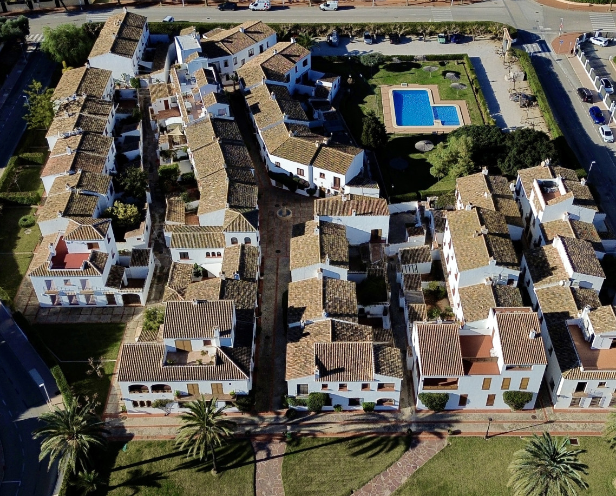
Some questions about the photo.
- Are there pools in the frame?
Yes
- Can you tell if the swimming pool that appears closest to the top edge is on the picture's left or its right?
right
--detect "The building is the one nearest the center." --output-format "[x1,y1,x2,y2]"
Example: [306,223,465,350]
[289,216,349,284]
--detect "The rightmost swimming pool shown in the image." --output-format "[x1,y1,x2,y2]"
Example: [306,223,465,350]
[392,87,460,127]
